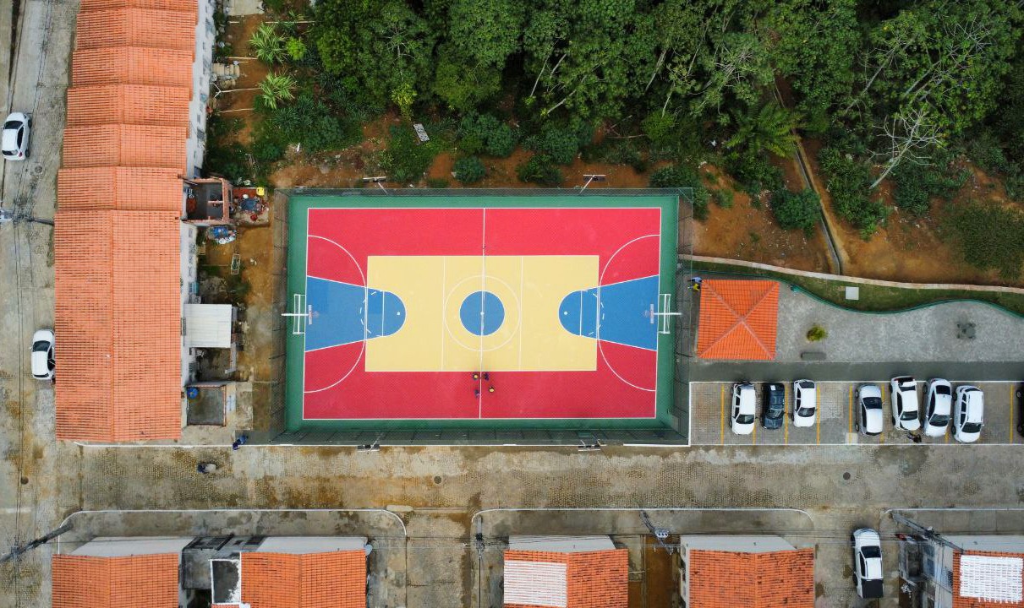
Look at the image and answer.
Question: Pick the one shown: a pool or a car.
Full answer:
Of the two, only a car appears.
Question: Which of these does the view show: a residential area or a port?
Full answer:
The area seen from above is a residential area.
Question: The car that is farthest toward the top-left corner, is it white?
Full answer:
Yes, the car that is farthest toward the top-left corner appears white.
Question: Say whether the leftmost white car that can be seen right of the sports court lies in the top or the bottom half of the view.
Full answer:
The leftmost white car that can be seen right of the sports court sits in the bottom half of the picture.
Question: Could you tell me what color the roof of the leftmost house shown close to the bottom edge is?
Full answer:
The color of the roof on the leftmost house shown close to the bottom edge is orange.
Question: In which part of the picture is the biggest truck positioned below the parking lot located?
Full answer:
The biggest truck positioned below the parking lot is located in the bottom right region of the scene.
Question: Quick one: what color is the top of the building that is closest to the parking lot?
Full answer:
The roof over the building that is closest to the parking lot appears orange.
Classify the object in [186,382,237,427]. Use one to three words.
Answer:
shed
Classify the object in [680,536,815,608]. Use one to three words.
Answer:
house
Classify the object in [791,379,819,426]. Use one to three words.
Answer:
car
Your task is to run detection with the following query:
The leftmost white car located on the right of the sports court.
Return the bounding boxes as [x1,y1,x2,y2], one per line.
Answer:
[730,380,758,435]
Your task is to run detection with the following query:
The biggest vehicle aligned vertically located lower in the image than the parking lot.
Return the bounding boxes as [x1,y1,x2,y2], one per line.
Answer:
[853,529,886,600]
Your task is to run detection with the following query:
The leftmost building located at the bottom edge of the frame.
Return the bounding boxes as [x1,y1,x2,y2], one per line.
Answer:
[51,538,188,608]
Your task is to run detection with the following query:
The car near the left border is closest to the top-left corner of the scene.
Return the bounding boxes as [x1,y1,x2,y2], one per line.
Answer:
[0,112,35,159]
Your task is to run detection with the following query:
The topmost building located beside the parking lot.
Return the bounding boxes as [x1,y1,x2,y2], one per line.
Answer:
[694,279,782,362]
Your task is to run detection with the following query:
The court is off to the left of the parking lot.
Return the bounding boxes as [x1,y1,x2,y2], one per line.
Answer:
[285,195,678,431]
